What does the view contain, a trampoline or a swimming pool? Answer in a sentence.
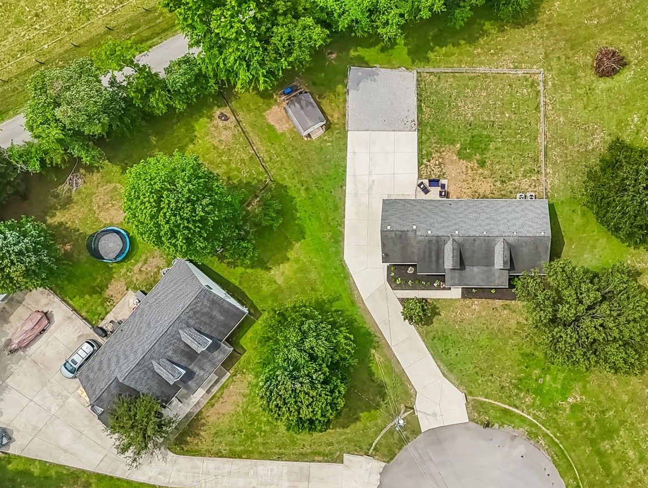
Of the two, only a trampoline appears.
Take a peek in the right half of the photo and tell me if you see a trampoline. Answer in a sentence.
No, in the right half of the photo there is no trampoline.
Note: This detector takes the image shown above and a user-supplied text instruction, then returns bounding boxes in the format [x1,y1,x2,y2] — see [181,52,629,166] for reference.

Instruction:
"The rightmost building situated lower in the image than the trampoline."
[78,255,251,420]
